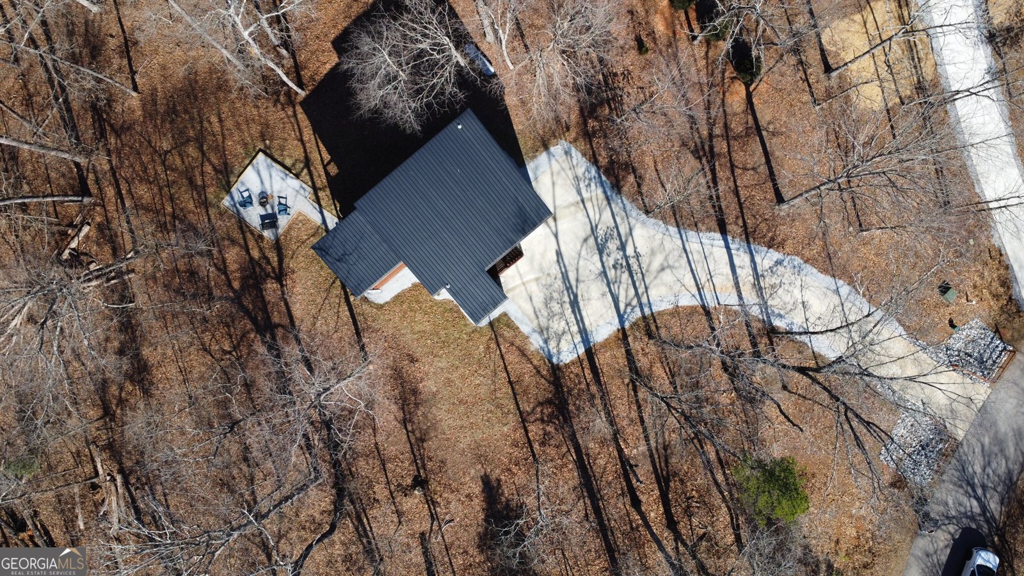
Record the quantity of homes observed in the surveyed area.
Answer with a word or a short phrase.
1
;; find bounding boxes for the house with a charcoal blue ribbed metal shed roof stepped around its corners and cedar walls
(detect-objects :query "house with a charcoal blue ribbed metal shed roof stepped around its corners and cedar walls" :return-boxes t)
[311,108,553,326]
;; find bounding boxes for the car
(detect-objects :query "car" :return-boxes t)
[958,543,1007,576]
